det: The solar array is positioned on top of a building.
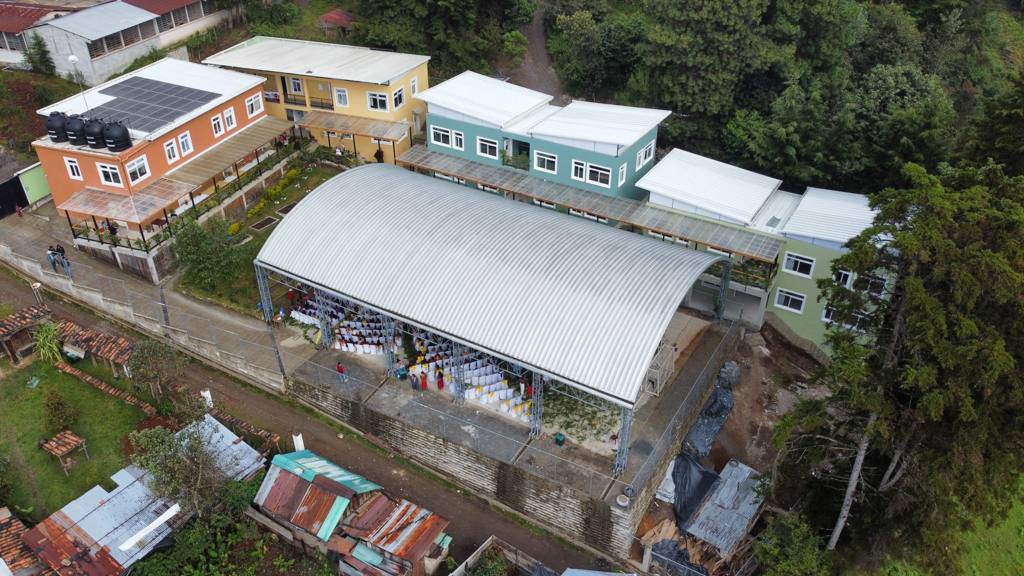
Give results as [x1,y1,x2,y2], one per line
[79,77,221,132]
